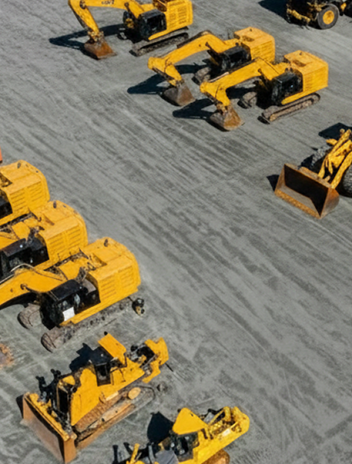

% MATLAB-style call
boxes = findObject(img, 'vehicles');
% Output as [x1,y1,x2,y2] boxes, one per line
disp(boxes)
[286,0,352,29]
[195,49,325,135]
[148,26,273,104]
[19,322,177,464]
[129,386,254,464]
[0,162,47,233]
[68,0,195,63]
[275,126,352,222]
[0,239,139,370]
